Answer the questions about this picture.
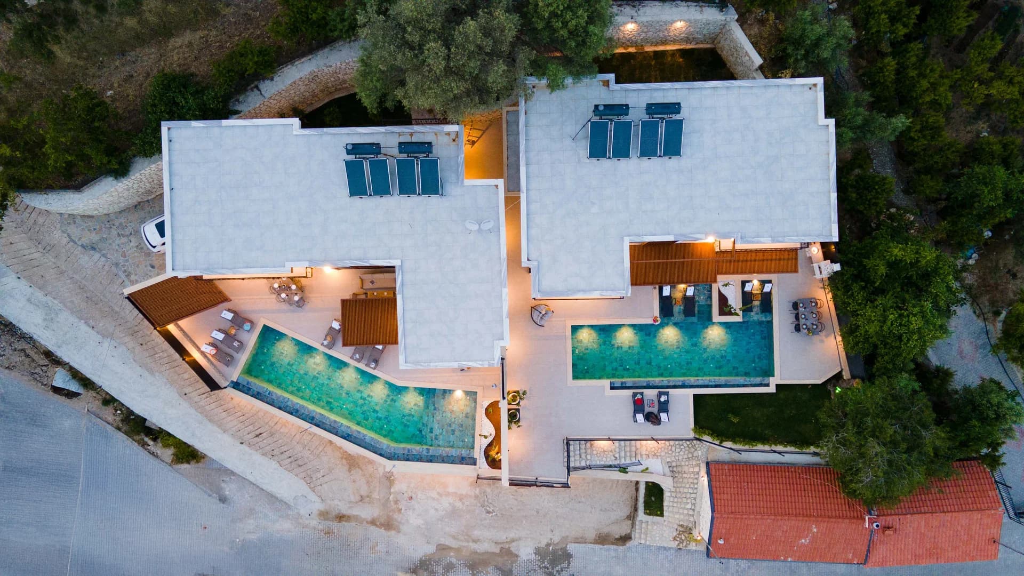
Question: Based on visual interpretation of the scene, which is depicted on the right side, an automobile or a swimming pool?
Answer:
swimming pool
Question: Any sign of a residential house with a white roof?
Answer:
Yes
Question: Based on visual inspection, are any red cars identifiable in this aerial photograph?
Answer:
No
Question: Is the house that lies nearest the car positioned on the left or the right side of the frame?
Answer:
left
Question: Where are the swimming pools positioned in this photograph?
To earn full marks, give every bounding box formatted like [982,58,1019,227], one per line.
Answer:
[566,274,781,393]
[221,318,483,477]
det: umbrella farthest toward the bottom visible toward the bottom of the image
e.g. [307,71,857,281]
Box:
[645,410,665,428]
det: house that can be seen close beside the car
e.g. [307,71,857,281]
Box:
[162,118,510,369]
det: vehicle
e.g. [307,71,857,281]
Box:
[133,212,166,253]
